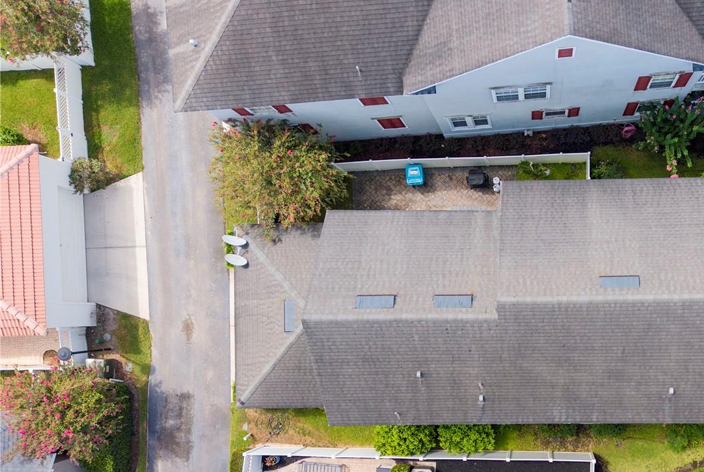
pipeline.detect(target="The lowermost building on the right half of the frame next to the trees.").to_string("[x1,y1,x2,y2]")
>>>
[233,178,704,423]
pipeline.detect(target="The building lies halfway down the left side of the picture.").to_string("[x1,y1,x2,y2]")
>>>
[0,141,97,334]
